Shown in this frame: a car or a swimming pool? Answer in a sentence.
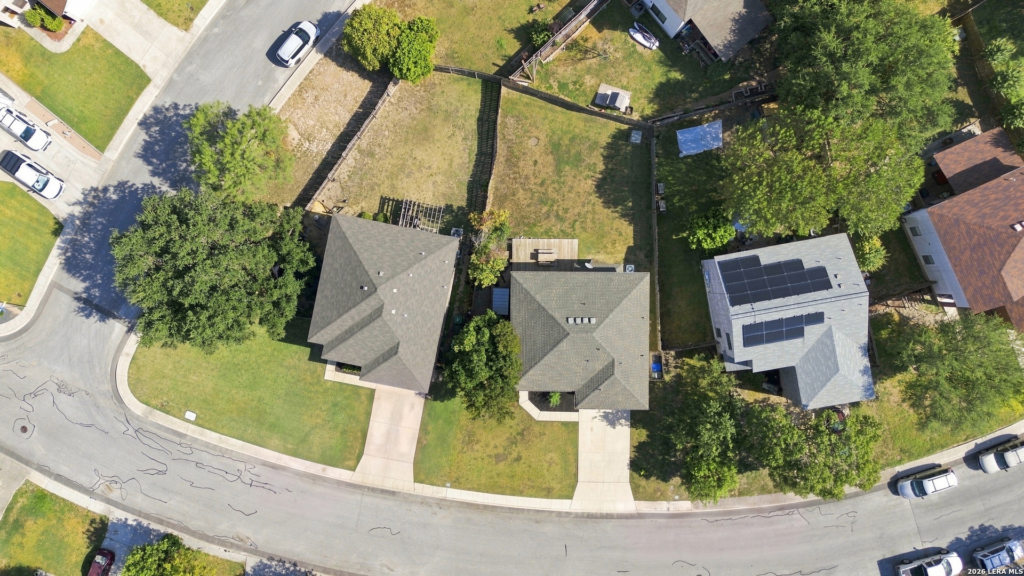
The one in the frame is a car.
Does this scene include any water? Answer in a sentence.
No, water can't be seen anywhere here.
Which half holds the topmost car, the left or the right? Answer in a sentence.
The topmost car is on the left side of the image.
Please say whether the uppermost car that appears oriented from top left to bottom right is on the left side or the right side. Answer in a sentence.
The uppermost car that appears oriented from top left to bottom right is on the left side of the image.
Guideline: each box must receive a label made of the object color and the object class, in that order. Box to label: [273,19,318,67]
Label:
white car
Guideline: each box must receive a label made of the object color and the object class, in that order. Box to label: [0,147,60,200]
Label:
white truck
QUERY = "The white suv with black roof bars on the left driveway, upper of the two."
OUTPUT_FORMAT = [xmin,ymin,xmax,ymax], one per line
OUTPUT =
[0,106,52,153]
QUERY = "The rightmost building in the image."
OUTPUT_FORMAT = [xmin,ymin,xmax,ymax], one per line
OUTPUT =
[906,127,1024,334]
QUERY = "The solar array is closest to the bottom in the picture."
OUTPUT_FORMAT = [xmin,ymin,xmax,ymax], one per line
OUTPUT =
[743,312,826,348]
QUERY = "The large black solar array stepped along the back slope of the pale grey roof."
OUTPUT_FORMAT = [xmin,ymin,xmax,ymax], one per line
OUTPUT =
[718,255,839,305]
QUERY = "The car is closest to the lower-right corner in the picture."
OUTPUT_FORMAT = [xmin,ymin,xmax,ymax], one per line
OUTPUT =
[972,538,1024,574]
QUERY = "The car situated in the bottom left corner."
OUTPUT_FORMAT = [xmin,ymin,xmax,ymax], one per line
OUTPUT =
[86,549,114,576]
